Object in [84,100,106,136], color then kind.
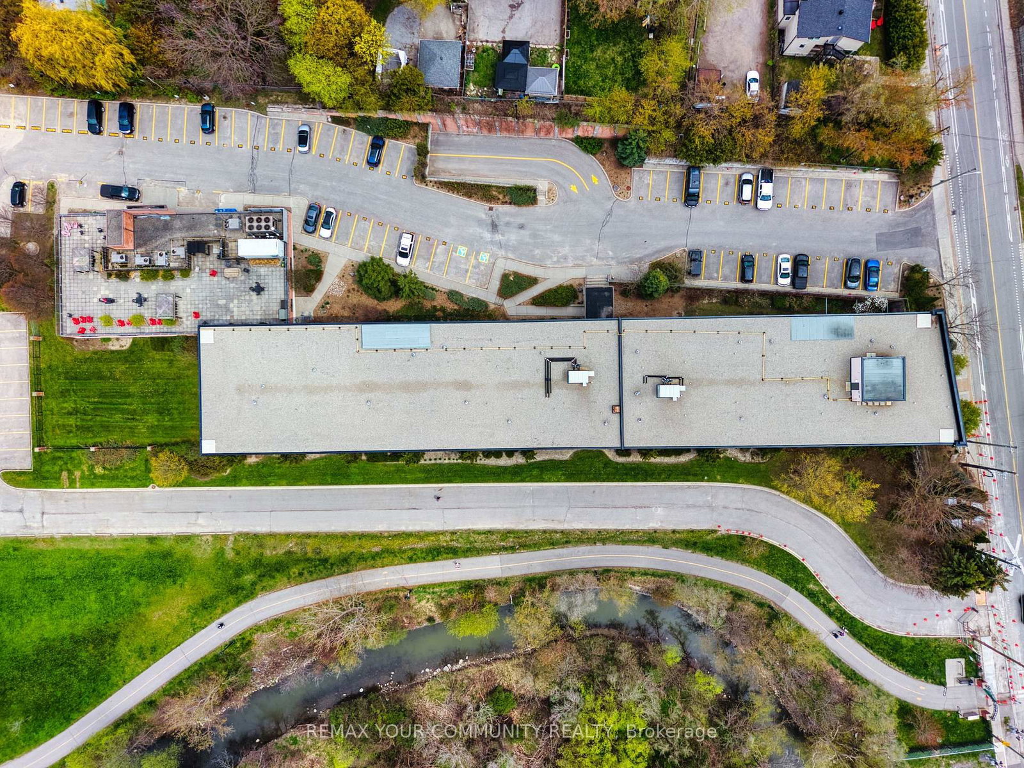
black car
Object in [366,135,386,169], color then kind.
blue car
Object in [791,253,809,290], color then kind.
black vehicle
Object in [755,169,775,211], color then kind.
white vehicle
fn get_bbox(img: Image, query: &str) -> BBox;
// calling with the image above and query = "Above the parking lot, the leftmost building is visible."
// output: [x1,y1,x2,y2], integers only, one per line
[419,40,462,95]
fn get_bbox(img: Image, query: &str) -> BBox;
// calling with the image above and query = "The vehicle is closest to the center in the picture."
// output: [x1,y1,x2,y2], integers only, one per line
[395,230,415,268]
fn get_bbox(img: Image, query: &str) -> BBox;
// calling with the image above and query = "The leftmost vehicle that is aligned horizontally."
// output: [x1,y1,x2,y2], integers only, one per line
[100,184,142,202]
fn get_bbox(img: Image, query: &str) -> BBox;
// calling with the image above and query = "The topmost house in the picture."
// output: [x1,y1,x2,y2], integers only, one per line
[768,0,874,54]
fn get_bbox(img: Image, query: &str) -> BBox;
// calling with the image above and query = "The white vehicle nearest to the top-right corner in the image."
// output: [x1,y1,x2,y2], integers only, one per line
[745,70,762,104]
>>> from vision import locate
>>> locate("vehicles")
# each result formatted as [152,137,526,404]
[84,100,106,136]
[366,135,386,169]
[755,169,775,211]
[791,253,809,290]
[683,166,702,207]
[9,179,28,210]
[296,123,312,156]
[199,103,217,136]
[687,246,703,281]
[319,206,338,240]
[395,230,415,268]
[745,70,762,104]
[737,173,754,204]
[116,101,136,136]
[843,257,861,289]
[775,254,792,287]
[739,252,756,285]
[100,184,142,202]
[303,202,322,235]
